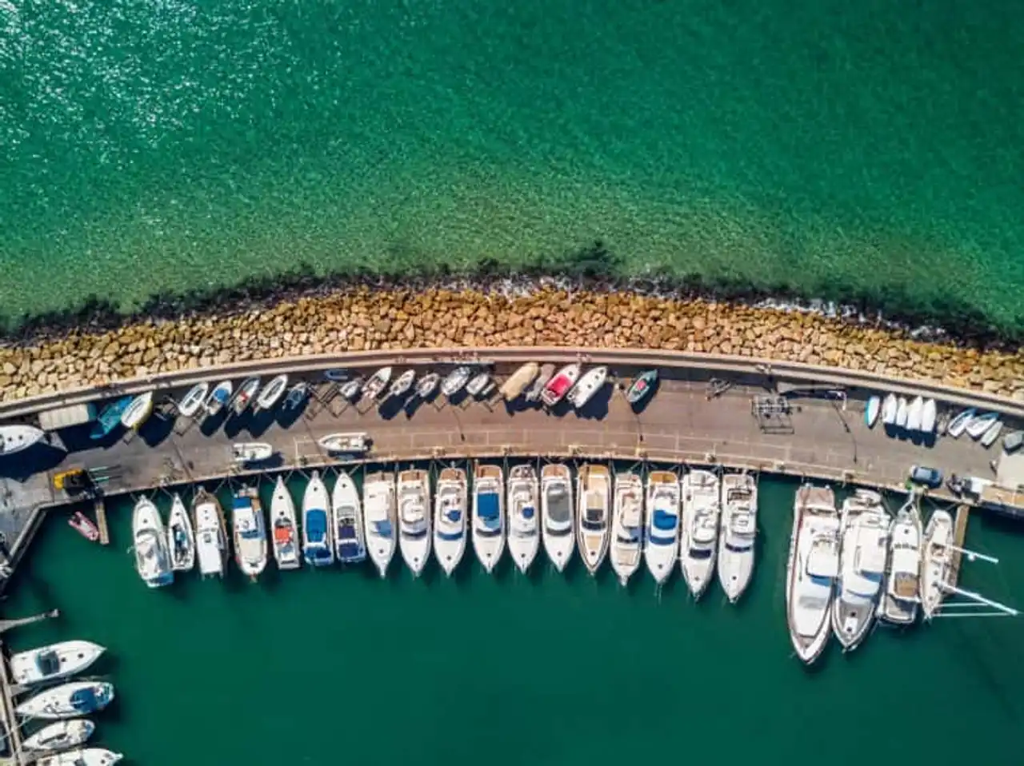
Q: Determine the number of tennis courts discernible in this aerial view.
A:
none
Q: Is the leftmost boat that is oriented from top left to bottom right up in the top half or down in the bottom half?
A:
bottom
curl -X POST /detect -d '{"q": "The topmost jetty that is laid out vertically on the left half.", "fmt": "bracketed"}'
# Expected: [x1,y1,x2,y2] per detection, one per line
[94,497,112,545]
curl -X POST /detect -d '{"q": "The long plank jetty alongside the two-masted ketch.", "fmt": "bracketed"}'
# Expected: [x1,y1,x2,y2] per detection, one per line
[946,502,969,591]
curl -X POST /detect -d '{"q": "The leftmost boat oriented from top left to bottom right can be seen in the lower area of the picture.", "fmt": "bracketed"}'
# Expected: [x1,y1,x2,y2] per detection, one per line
[65,510,100,539]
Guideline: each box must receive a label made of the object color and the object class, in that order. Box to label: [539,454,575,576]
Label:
white boat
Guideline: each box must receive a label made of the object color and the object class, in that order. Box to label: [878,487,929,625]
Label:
white boat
